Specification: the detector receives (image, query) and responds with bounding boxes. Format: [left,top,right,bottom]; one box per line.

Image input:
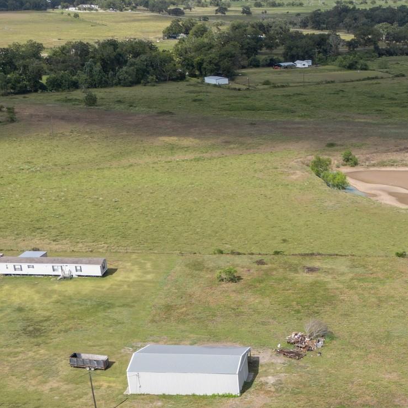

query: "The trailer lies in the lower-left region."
[68,350,114,370]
